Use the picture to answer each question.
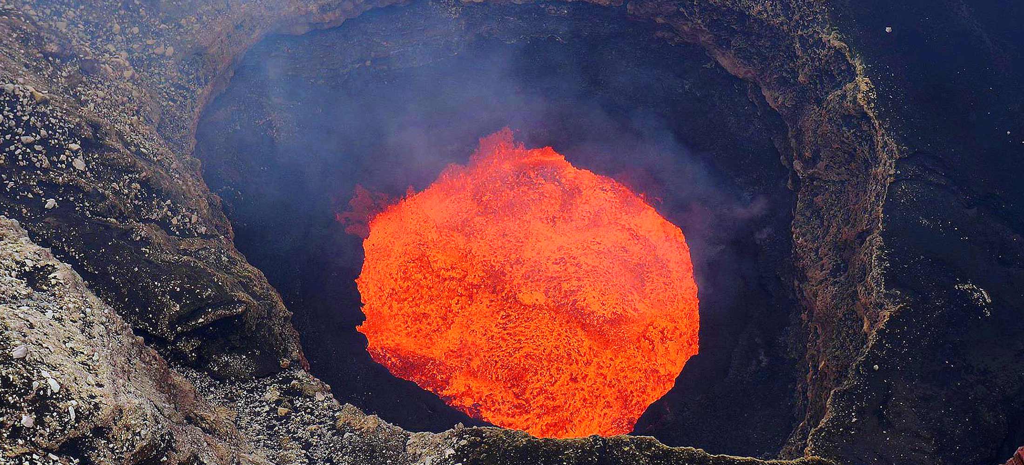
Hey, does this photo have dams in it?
No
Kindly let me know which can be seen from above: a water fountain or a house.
water fountain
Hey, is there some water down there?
Yes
